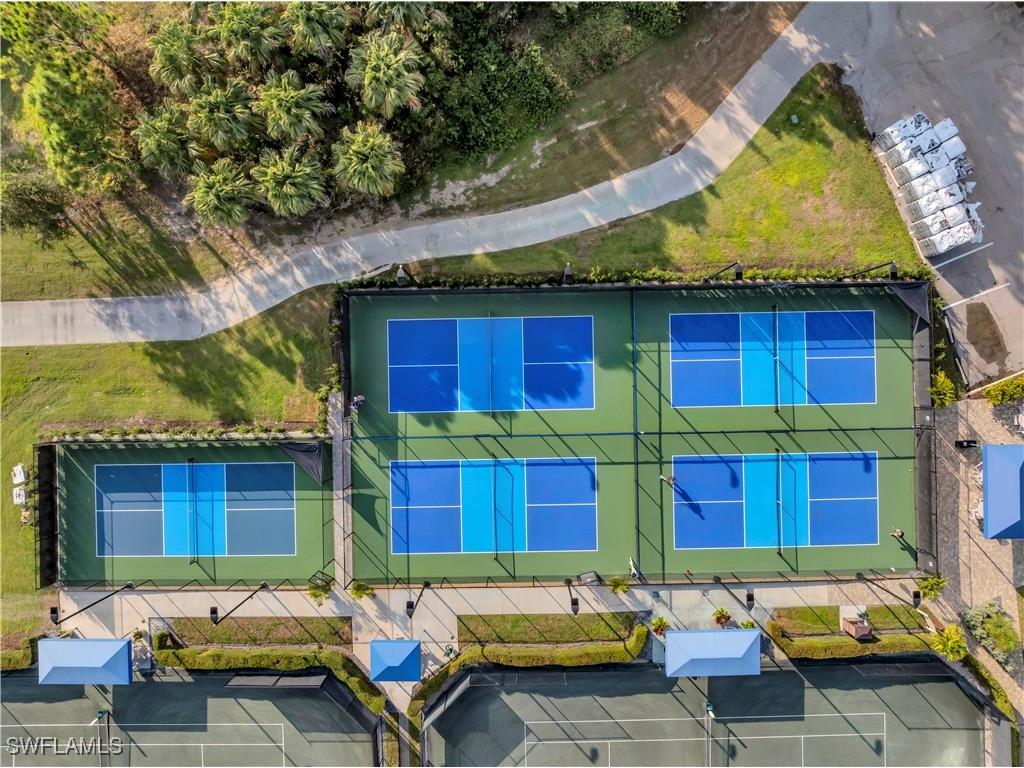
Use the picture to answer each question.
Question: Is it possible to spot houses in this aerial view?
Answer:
No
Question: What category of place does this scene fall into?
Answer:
sports ground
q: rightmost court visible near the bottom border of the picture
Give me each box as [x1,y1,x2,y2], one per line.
[430,657,984,768]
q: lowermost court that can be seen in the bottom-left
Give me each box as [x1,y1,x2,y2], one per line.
[0,661,386,768]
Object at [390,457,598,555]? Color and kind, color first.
blue sports court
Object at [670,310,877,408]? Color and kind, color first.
blue sports court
